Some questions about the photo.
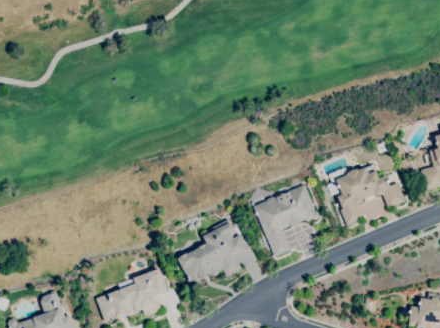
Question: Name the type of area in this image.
golf course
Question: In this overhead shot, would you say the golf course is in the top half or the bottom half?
top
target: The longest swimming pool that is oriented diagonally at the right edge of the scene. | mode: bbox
[408,124,428,150]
